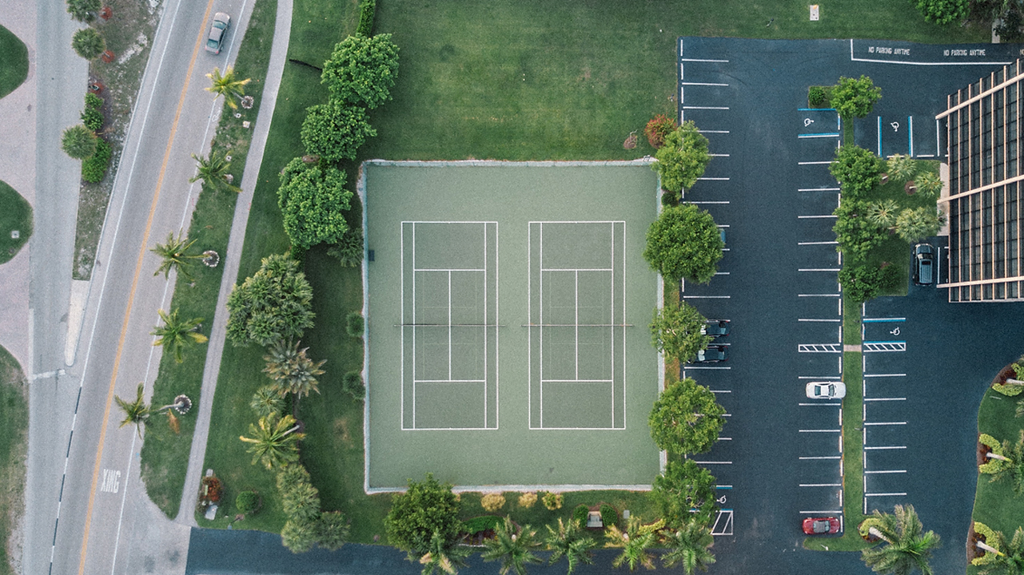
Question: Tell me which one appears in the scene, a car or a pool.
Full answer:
Visible in the photo is a car.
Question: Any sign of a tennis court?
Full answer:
Yes, this view includes a tennis court.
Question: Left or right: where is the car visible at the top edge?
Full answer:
The car visible at the top edge sits on the left side.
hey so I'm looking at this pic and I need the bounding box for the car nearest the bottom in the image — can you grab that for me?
[803,519,840,537]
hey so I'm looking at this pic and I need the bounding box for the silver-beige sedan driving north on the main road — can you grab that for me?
[201,10,229,53]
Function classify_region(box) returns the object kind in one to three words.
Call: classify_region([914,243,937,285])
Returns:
car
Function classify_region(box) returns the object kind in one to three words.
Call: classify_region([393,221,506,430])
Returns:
tennis court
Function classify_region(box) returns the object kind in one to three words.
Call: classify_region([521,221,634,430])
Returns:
tennis court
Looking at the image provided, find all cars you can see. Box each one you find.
[686,345,729,364]
[201,10,229,53]
[803,519,840,537]
[914,243,937,285]
[807,381,847,401]
[688,319,730,338]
